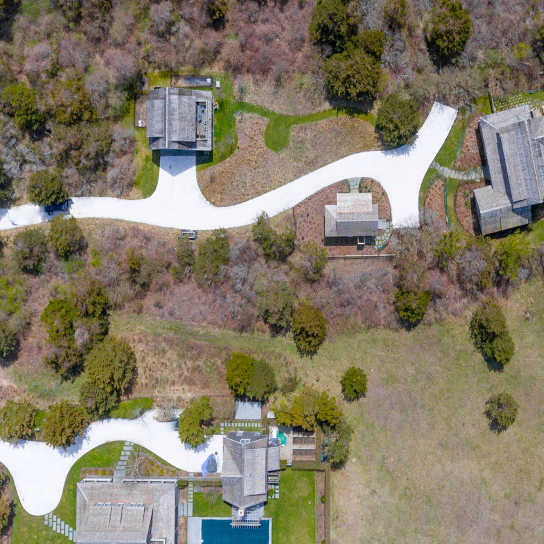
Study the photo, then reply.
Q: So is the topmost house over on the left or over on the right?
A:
left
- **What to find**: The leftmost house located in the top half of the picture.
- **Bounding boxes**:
[147,87,216,150]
